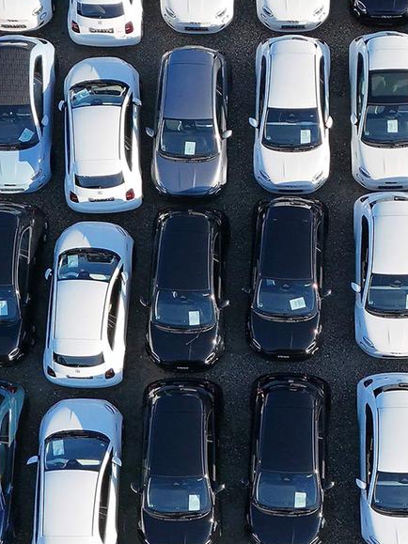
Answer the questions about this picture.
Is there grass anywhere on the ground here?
No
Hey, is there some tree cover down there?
No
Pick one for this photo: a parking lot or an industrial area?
parking lot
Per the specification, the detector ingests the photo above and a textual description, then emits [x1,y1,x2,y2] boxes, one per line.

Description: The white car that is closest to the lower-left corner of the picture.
[24,399,122,544]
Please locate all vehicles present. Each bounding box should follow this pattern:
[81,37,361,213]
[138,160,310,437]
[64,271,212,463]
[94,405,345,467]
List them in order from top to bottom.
[0,0,53,34]
[67,0,143,47]
[161,0,234,35]
[257,0,329,34]
[349,0,408,27]
[347,31,408,189]
[0,34,56,193]
[247,34,337,194]
[142,40,233,201]
[53,58,143,215]
[352,189,408,358]
[241,193,336,362]
[0,199,47,368]
[139,204,233,375]
[39,221,133,389]
[238,372,336,544]
[355,372,408,544]
[128,377,227,544]
[0,380,28,544]
[24,399,122,544]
